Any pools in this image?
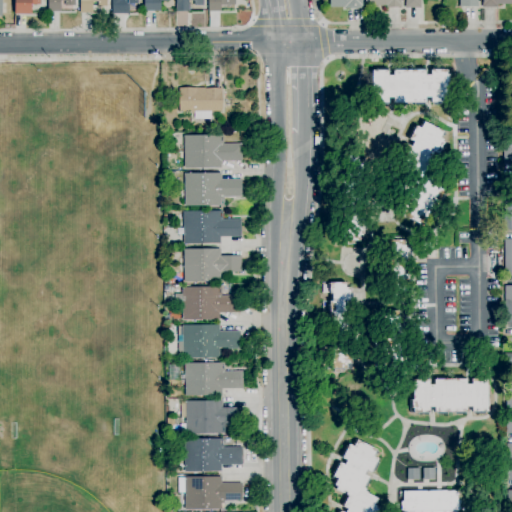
Yes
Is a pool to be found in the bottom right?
Yes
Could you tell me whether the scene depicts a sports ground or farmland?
sports ground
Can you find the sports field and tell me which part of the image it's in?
left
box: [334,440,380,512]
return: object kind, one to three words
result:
building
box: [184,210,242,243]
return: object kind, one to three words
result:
house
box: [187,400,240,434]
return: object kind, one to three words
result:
house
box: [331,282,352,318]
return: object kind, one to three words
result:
building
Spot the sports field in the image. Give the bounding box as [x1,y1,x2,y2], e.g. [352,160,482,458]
[0,62,158,512]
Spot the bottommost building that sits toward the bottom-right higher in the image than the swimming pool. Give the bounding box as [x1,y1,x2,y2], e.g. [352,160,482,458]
[414,378,490,412]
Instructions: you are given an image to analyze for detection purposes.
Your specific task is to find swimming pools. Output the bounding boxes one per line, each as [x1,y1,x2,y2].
[410,435,446,461]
